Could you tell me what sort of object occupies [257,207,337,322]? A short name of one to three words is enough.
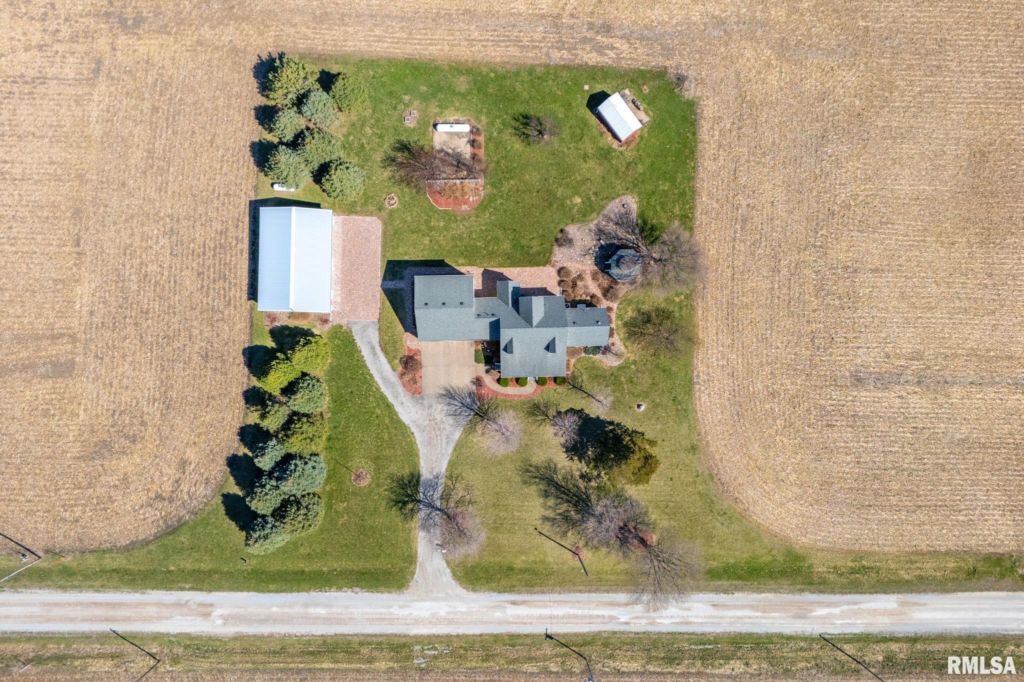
barn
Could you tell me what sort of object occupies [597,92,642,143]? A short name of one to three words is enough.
shed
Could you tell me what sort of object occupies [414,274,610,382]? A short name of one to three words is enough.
house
